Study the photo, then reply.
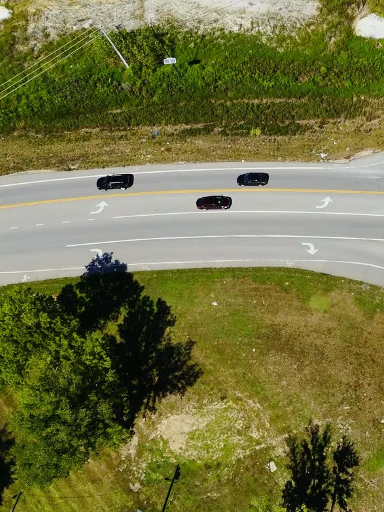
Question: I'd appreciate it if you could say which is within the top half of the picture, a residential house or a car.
car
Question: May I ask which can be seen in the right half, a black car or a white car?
black car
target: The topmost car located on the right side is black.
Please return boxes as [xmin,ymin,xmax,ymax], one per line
[236,171,269,187]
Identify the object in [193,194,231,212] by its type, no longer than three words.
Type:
car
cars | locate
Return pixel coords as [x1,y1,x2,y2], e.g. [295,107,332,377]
[193,194,231,212]
[236,171,269,187]
[94,172,134,192]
